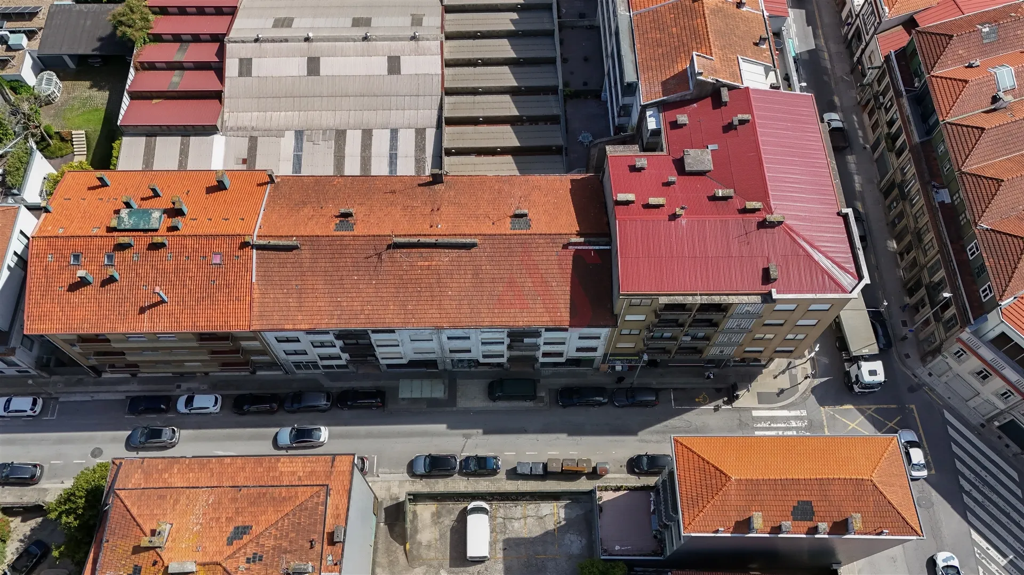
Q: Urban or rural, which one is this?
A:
urban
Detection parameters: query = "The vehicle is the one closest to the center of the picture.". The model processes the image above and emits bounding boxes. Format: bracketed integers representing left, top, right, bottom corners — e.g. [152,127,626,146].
[488,377,536,401]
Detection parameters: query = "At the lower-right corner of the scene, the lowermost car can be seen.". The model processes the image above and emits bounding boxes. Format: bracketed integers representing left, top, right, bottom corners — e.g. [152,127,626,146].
[933,549,964,575]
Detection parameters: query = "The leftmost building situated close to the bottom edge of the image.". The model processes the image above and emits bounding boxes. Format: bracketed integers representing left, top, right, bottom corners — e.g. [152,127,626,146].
[82,453,375,575]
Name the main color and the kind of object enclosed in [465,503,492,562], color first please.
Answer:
white vehicle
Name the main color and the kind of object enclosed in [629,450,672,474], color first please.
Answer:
black car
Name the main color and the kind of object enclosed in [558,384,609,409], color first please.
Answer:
black car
